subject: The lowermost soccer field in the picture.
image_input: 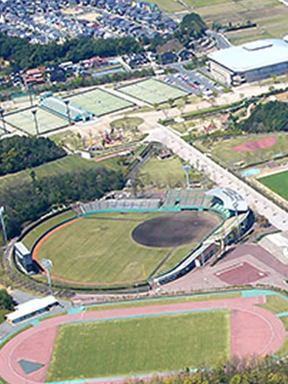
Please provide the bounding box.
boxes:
[46,308,232,381]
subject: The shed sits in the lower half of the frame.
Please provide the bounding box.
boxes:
[5,295,58,328]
